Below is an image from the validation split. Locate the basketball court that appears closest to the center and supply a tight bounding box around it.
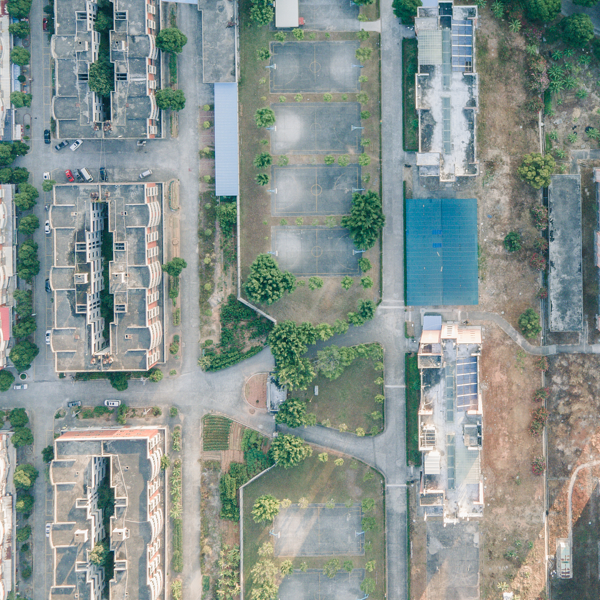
[271,225,362,277]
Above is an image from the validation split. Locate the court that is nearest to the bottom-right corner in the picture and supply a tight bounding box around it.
[427,521,482,600]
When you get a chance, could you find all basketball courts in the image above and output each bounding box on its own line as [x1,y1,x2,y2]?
[270,41,361,94]
[270,102,362,155]
[270,0,361,33]
[273,503,364,558]
[271,164,362,217]
[278,568,366,600]
[271,225,362,277]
